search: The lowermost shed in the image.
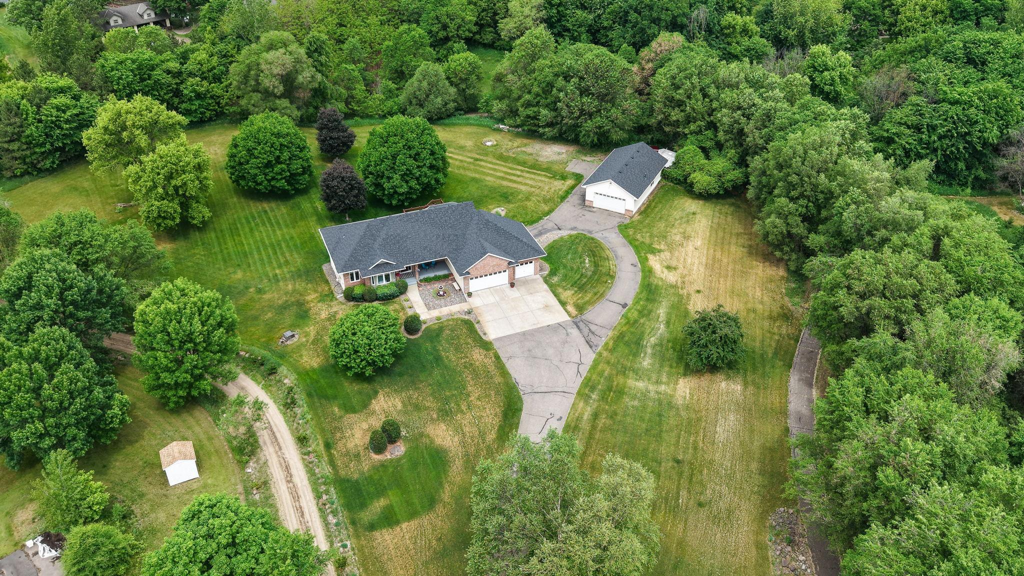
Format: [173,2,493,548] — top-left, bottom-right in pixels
[159,441,200,486]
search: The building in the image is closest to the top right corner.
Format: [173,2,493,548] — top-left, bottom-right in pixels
[580,142,669,216]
